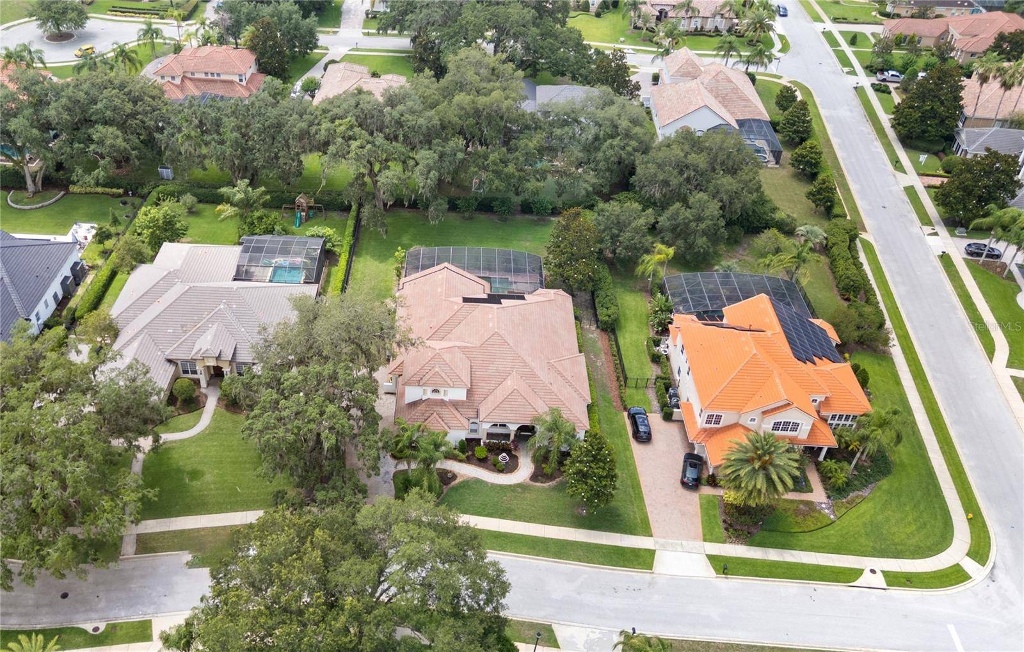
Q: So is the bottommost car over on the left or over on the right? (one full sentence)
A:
The bottommost car sits on the right side.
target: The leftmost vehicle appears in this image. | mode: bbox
[72,43,96,56]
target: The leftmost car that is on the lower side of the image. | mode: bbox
[625,405,658,442]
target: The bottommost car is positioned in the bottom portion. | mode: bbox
[681,452,706,491]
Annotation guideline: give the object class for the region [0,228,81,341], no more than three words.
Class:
house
